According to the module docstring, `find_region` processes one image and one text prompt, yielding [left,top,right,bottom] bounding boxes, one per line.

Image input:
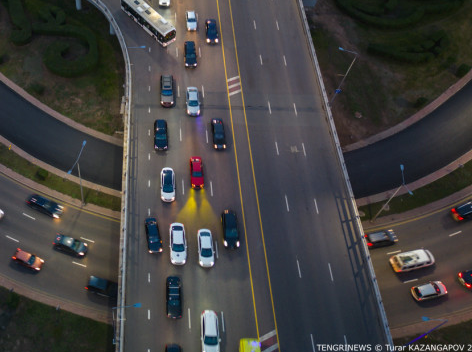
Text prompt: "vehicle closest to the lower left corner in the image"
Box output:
[11,248,45,272]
